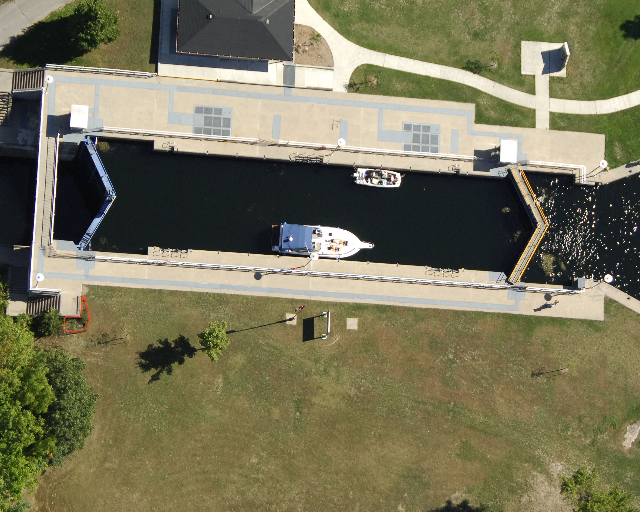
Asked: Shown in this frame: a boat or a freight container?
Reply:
boat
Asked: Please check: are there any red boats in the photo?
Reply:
No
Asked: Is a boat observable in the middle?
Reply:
Yes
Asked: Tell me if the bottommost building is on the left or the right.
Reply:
right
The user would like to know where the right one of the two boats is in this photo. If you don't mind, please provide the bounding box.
[349,164,407,189]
